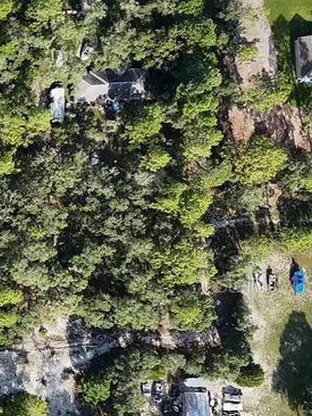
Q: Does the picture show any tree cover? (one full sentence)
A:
Yes, the picture does contain tree cover.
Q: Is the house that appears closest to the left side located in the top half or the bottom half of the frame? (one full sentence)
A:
You can find the house that appears closest to the left side in the top half.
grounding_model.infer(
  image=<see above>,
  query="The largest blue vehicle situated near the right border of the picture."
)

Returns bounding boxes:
[292,269,304,293]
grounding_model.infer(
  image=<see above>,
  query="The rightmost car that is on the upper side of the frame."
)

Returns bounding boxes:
[78,42,93,61]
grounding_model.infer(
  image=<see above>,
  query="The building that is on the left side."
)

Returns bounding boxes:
[71,68,146,106]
